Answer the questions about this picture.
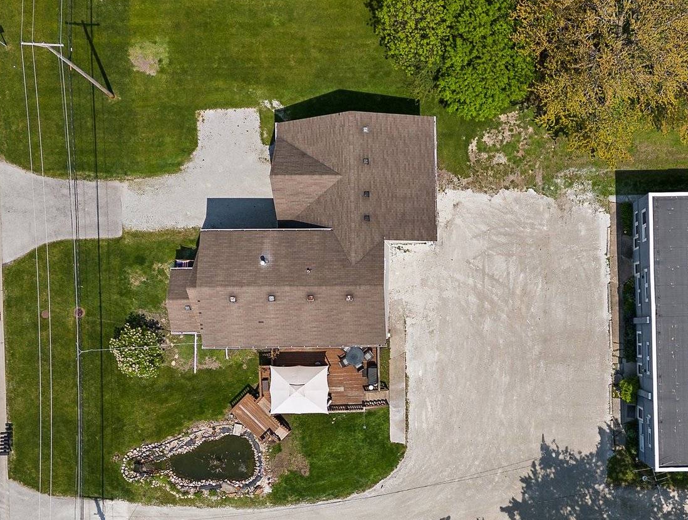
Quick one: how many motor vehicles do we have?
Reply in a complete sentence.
Not a single motor vehicle can be seen.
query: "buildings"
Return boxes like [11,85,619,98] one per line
[634,193,688,471]
[166,110,439,373]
